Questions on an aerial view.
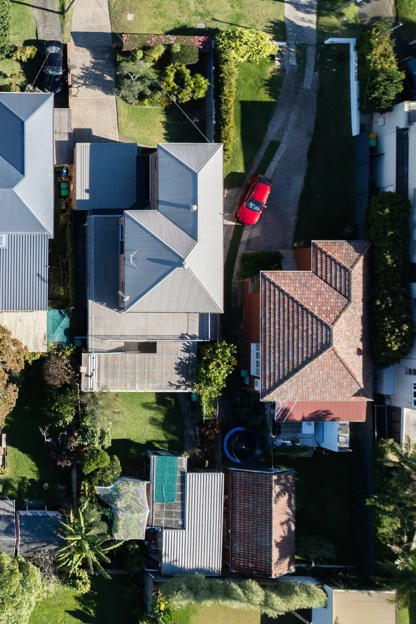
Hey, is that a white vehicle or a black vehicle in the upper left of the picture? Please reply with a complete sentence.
Looking in the upper left of the picture, you will find a black vehicle.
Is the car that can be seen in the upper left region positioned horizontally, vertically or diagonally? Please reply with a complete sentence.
The car that can be seen in the upper left region is oriented vertically.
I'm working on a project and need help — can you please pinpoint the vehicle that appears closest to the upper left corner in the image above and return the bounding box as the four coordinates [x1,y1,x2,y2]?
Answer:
[41,39,67,93]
